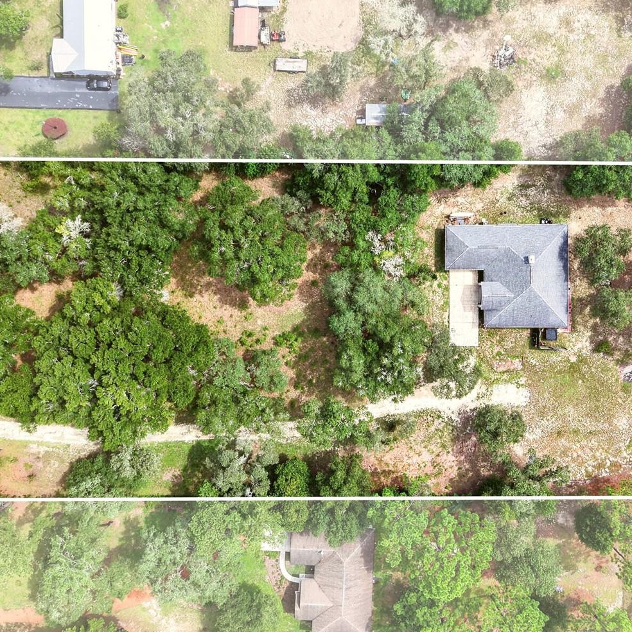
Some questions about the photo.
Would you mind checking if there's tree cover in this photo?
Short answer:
Yes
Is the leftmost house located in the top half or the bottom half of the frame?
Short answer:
top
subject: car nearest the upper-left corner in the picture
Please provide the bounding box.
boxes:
[84,77,110,90]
